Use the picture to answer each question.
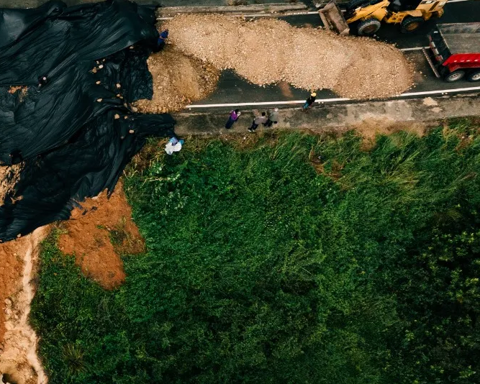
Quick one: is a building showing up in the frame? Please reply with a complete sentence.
No, there appears to be no building in this shot.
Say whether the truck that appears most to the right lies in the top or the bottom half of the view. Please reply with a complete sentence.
You can find the truck that appears most to the right in the top half.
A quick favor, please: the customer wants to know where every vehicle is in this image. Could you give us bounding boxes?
[323,0,442,35]
[414,27,480,80]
